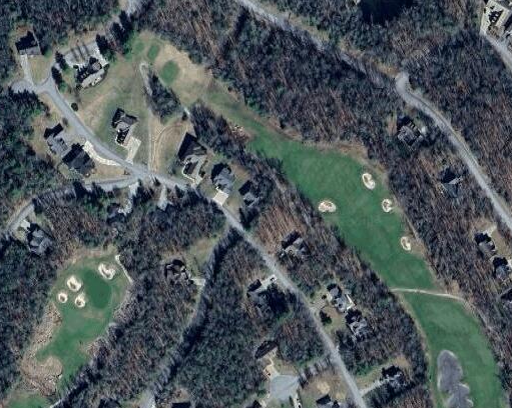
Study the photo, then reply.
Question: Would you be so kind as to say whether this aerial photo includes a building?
Yes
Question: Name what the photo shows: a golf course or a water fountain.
golf course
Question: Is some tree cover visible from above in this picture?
Yes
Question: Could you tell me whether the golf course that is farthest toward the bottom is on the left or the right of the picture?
left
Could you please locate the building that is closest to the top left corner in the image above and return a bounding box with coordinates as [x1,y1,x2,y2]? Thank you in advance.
[17,35,40,57]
